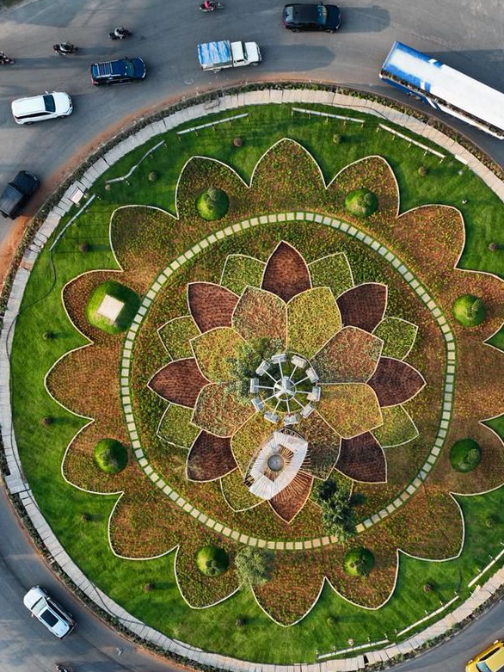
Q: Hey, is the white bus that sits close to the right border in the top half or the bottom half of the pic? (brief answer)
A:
top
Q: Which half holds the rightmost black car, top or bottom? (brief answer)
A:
top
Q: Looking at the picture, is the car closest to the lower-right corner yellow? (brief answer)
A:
Yes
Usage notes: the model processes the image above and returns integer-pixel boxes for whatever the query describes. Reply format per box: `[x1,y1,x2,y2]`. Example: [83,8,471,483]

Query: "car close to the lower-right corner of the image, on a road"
[464,641,504,672]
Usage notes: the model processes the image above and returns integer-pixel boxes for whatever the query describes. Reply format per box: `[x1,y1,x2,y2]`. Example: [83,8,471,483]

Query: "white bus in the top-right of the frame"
[379,42,504,142]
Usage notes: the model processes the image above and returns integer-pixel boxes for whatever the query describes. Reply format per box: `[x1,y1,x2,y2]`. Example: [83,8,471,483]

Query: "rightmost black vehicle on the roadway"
[283,2,341,34]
